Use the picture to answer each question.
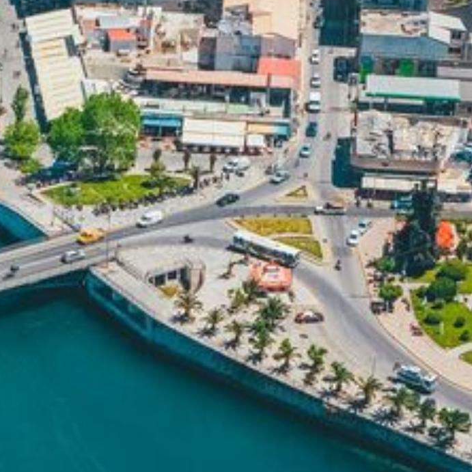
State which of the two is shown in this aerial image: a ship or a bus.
bus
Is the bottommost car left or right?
right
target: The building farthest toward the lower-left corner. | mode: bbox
[147,262,203,294]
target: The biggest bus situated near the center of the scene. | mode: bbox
[231,228,300,268]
